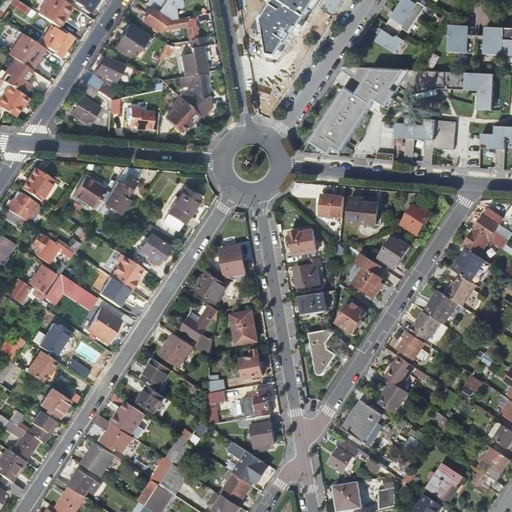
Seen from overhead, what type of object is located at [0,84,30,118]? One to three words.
house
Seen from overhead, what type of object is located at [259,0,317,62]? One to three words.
building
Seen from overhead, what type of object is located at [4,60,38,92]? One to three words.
house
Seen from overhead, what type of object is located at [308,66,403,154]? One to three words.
building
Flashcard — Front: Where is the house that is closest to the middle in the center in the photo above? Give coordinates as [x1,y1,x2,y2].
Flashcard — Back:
[218,244,246,278]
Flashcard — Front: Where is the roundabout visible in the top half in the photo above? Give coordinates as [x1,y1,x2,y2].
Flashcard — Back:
[232,144,270,182]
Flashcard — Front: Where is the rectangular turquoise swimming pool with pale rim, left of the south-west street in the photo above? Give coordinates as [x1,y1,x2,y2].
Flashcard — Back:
[74,342,100,364]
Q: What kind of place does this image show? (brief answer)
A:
residential area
